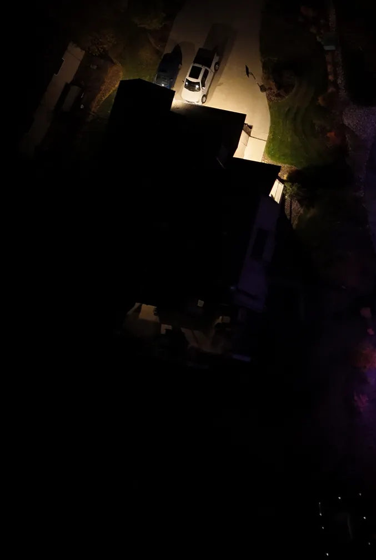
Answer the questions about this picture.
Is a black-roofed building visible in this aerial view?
Yes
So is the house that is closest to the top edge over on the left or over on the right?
left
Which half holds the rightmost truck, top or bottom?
top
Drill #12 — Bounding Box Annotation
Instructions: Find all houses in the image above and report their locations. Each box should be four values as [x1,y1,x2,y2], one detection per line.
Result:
[105,75,284,313]
[0,0,85,168]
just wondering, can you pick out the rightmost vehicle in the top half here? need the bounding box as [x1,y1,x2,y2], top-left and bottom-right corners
[182,43,222,105]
